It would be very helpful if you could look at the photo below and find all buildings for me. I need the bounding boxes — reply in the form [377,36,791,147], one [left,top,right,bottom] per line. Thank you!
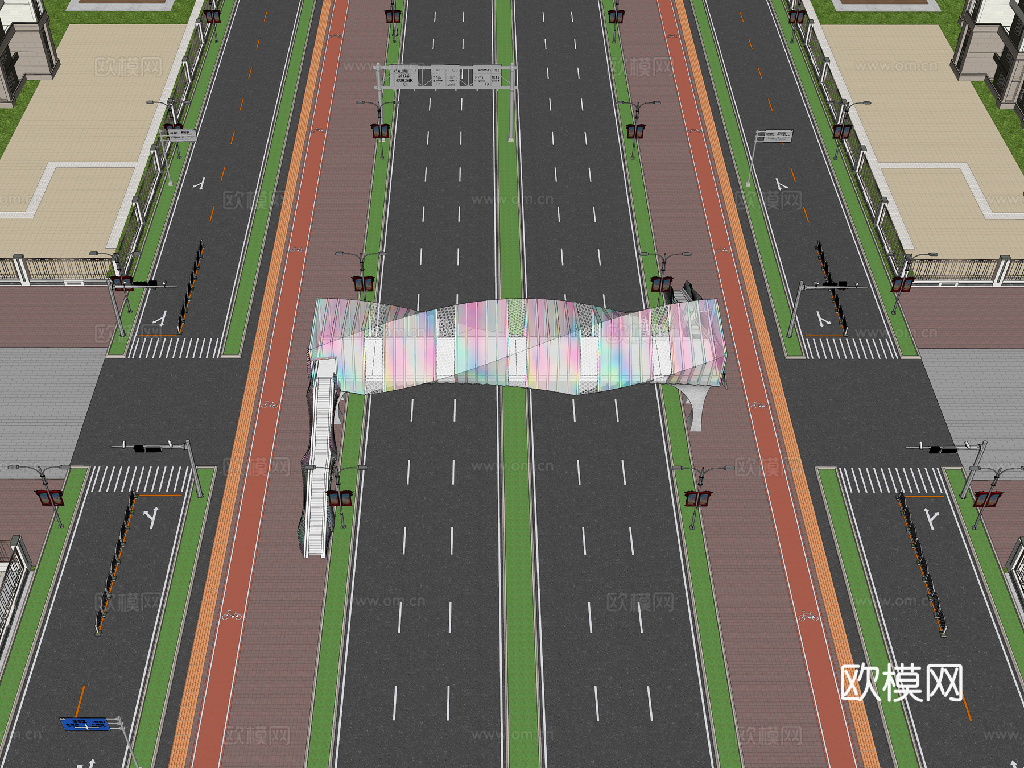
[0,0,61,108]
[950,0,1024,129]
